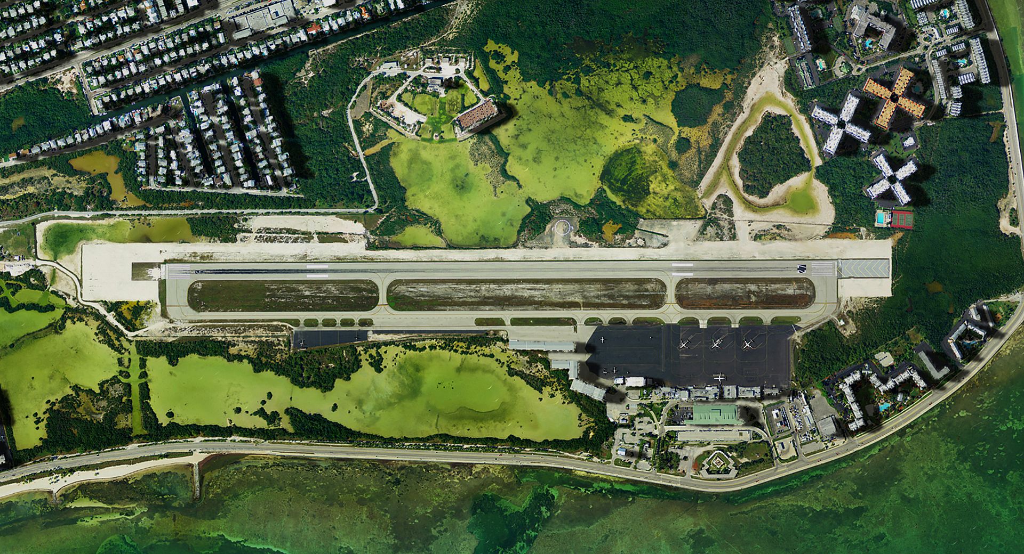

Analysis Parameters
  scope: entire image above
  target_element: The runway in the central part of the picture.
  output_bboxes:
[166,259,836,279]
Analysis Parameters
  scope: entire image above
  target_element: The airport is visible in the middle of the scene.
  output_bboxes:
[166,258,890,387]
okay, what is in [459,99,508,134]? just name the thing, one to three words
building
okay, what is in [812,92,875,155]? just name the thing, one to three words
building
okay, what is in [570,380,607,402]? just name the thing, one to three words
hangar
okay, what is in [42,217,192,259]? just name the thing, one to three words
pond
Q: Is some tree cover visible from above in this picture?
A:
Yes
